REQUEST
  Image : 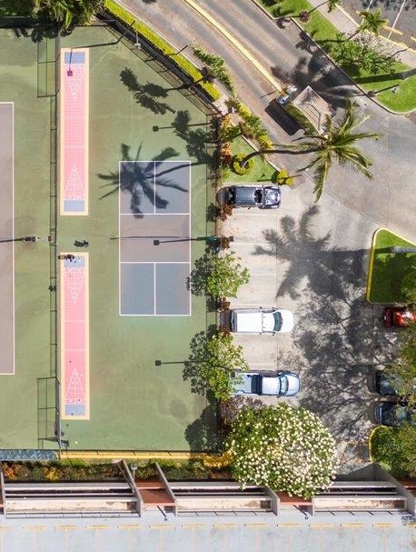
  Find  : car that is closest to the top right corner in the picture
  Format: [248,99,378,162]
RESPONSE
[222,182,283,210]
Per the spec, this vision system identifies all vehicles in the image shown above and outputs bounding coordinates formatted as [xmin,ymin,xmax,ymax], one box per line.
[230,307,294,336]
[372,401,416,428]
[222,182,283,210]
[232,371,300,399]
[381,305,415,328]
